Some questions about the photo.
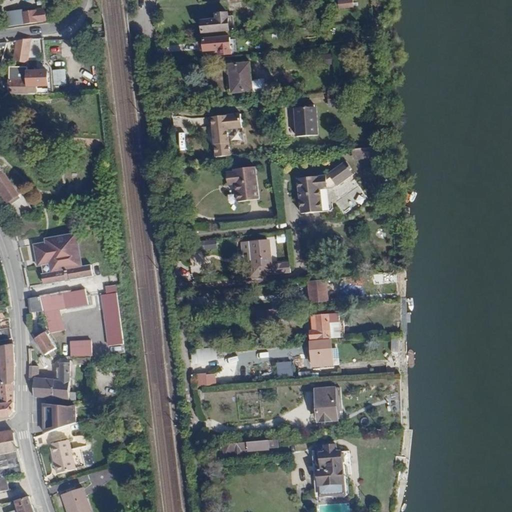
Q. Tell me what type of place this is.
residential area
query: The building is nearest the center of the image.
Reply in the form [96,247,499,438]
[241,238,272,284]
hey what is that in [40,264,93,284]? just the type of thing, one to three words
shed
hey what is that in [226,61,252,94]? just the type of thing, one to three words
house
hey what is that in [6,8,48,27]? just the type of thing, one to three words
building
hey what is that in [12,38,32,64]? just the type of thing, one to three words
house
